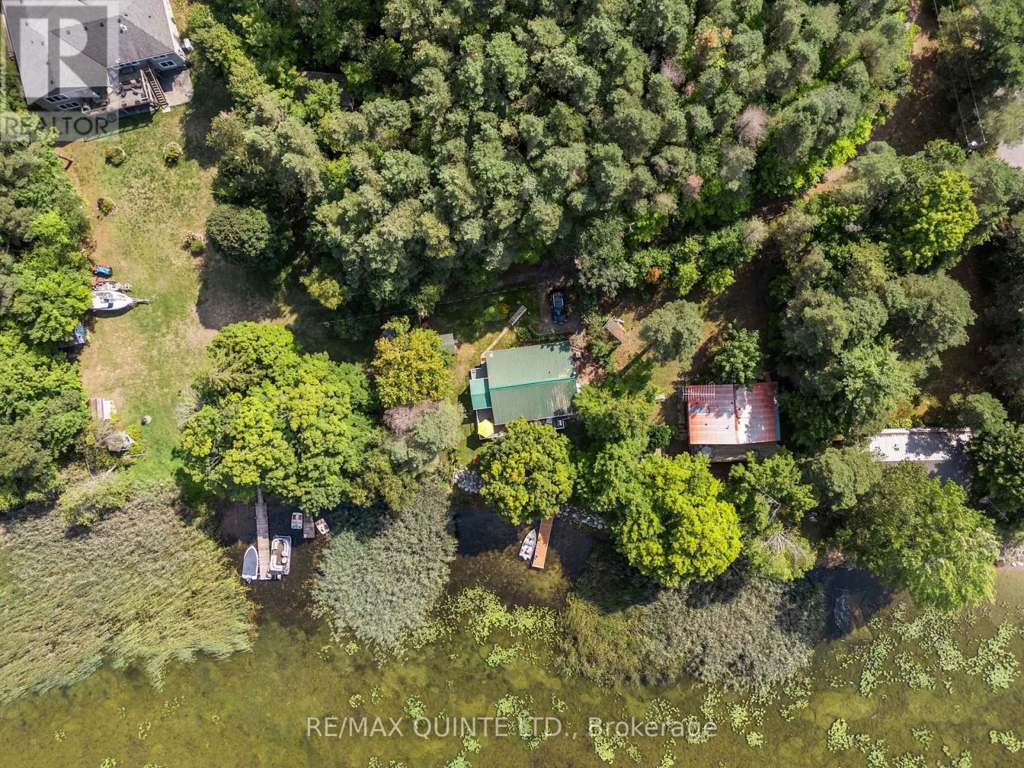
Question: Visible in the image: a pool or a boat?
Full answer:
Of the two, only a boat appears.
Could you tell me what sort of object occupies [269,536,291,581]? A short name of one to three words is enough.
boat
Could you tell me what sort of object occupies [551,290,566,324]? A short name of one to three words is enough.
car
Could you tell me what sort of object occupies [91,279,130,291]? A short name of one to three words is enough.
boat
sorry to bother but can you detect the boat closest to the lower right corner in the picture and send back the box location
[518,530,535,564]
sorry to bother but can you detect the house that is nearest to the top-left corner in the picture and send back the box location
[2,0,190,116]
